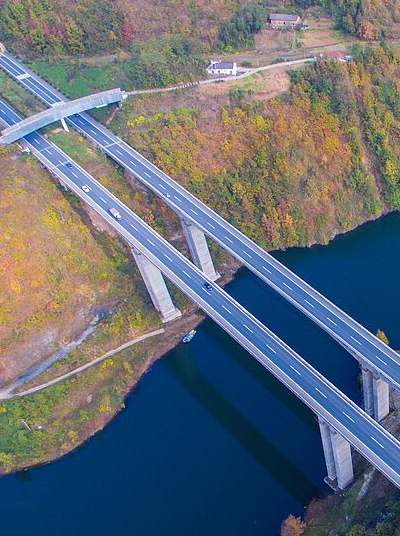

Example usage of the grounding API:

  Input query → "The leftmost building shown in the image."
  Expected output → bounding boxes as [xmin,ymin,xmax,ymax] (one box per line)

[199,59,238,76]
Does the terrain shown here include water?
Yes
